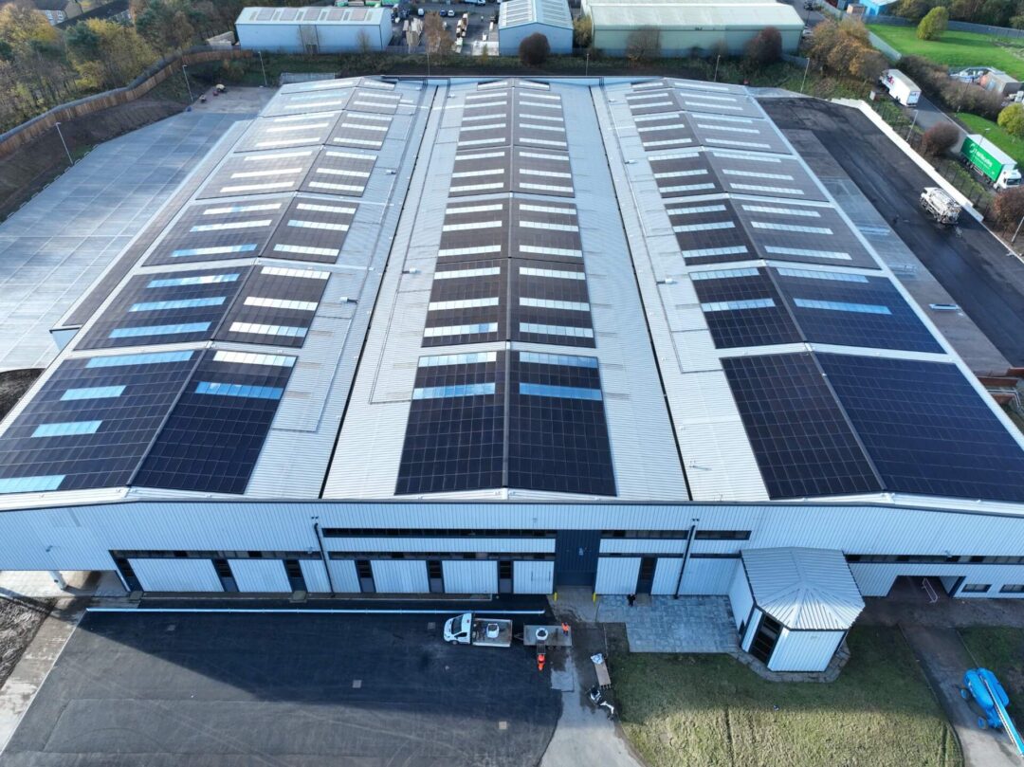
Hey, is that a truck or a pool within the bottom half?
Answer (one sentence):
The one visible within the bottom half is a truck.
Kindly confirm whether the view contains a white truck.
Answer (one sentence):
Yes, a white truck appears in the view.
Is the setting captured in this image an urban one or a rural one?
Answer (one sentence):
From above, the setting appears urban.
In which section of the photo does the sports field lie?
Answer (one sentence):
You can find the sports field in the top right area of the picture.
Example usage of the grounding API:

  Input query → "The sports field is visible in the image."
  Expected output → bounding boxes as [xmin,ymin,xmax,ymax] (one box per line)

[855,22,1024,77]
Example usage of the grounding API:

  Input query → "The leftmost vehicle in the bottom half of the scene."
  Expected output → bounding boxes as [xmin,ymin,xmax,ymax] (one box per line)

[442,614,512,647]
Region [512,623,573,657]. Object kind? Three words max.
trailer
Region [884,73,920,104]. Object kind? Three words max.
truck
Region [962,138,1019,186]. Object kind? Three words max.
truck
